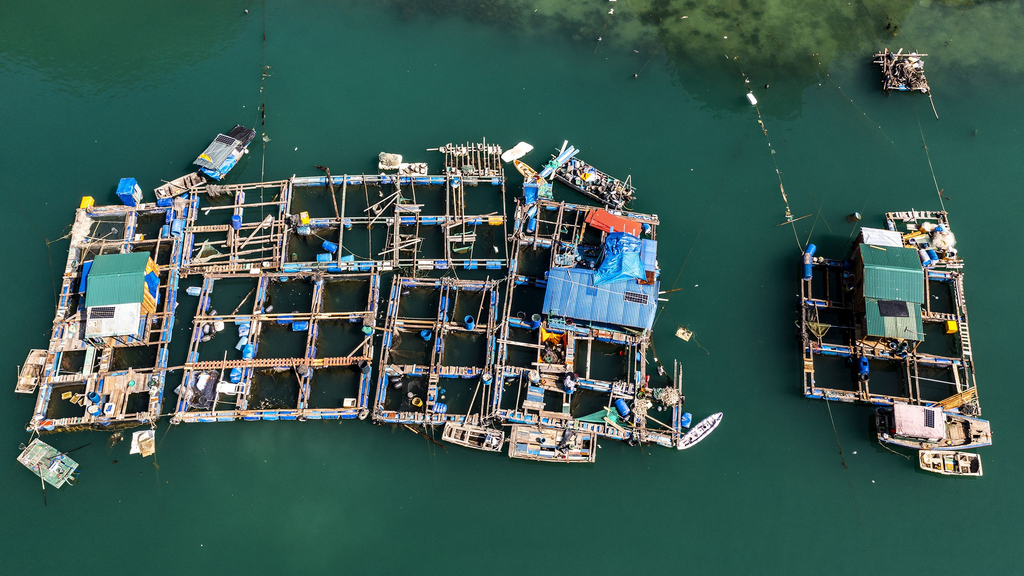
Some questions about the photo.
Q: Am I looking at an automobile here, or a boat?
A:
boat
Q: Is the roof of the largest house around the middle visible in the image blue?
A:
Yes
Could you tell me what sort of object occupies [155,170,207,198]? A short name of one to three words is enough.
boat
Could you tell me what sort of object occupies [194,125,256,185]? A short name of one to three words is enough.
boat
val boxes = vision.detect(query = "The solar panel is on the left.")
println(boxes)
[90,306,115,319]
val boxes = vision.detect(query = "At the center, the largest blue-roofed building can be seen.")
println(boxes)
[542,224,660,339]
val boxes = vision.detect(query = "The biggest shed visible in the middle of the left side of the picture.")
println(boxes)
[77,252,161,351]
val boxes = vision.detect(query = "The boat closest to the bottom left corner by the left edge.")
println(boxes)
[18,439,92,506]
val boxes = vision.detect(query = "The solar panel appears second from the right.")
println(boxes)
[624,291,648,304]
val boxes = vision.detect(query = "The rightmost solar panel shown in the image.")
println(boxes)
[879,301,909,317]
